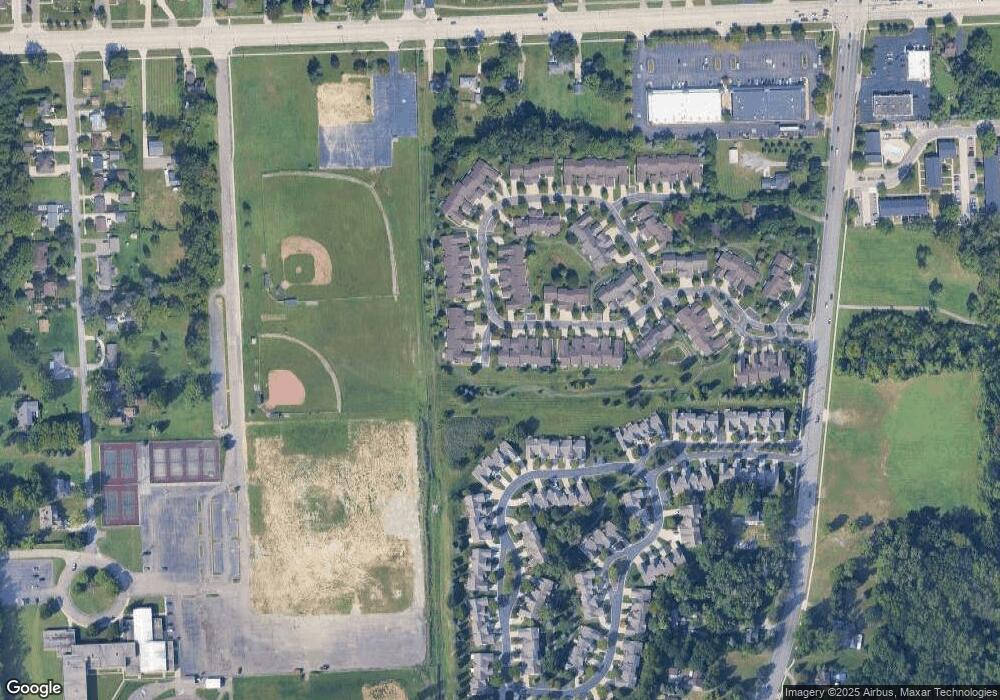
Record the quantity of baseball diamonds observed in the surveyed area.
2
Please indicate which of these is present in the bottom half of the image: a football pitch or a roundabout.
roundabout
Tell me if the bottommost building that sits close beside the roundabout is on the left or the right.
left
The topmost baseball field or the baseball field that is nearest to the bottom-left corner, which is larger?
the topmost baseball field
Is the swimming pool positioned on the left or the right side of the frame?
right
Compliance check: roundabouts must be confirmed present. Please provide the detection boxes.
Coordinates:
[58,557,131,626]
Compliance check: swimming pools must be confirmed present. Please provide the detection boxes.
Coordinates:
[881,136,913,165]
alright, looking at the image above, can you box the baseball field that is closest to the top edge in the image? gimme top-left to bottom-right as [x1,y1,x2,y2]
[261,174,398,320]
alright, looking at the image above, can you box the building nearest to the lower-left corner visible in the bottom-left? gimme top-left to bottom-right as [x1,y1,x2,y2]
[43,609,175,700]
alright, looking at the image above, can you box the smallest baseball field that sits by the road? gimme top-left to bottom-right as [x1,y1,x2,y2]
[254,332,342,417]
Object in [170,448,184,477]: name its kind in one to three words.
tennis court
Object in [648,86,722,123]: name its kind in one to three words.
building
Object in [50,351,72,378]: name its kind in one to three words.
house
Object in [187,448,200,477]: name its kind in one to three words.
tennis court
